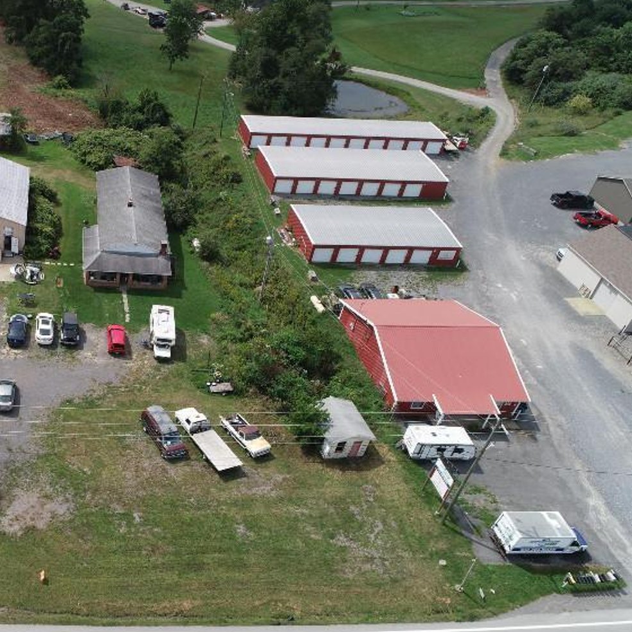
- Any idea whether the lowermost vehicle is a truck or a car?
truck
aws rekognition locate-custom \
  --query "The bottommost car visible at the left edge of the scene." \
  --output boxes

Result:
[0,376,18,410]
